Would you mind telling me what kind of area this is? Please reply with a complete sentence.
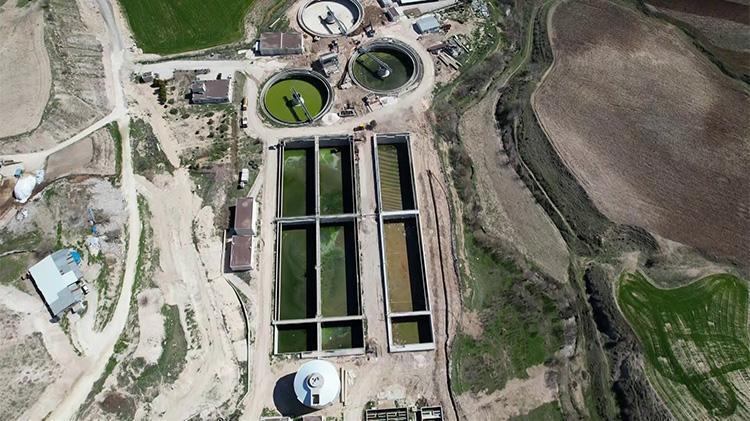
The picture captures an industrial area.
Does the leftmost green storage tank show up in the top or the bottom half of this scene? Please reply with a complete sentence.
The leftmost green storage tank is in the top half of the image.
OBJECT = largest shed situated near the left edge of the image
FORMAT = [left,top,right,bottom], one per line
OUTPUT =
[29,249,86,324]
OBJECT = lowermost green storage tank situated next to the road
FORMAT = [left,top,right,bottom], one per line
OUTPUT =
[259,70,333,129]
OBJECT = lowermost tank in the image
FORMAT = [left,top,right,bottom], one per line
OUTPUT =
[294,359,341,411]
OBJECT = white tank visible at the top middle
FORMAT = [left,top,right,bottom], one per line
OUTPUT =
[297,0,364,39]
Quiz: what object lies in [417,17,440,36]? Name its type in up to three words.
building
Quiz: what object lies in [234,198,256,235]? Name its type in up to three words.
building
